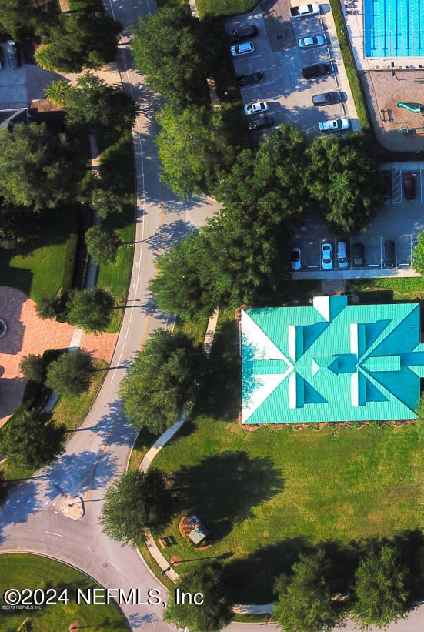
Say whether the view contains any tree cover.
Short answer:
Yes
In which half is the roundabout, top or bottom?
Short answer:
bottom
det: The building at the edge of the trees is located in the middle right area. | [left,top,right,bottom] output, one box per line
[240,293,424,425]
